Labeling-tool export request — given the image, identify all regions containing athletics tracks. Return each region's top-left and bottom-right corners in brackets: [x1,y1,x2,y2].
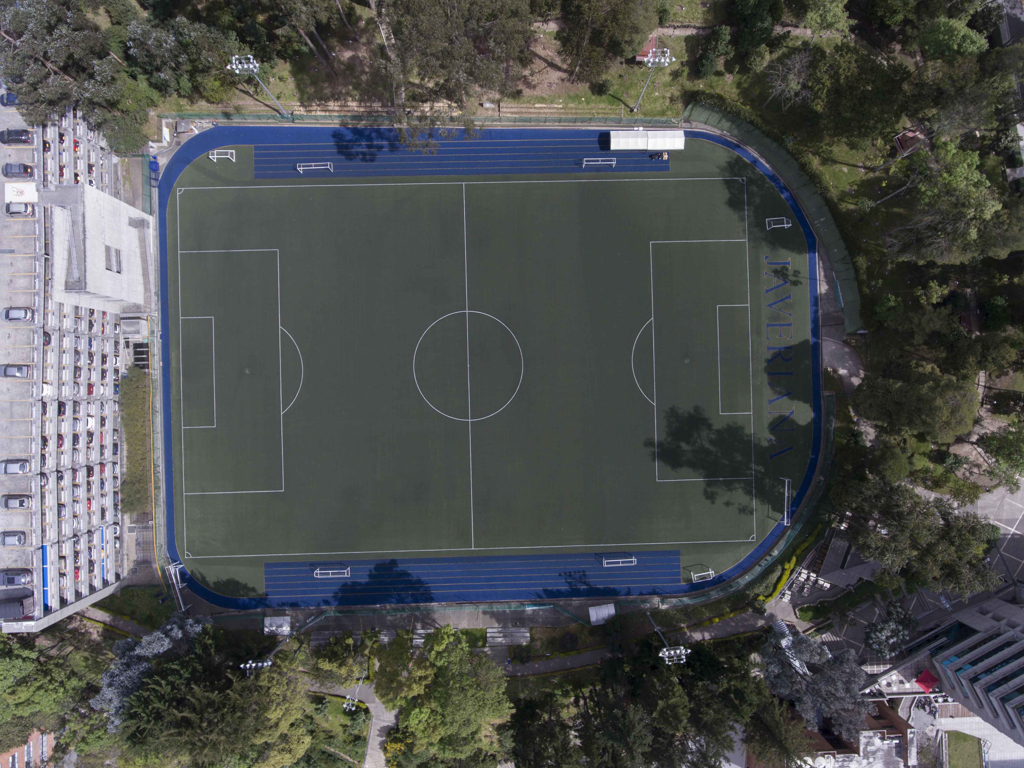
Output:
[158,126,822,609]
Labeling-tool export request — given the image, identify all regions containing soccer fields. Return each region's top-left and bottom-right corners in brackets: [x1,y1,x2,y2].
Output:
[167,138,813,598]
